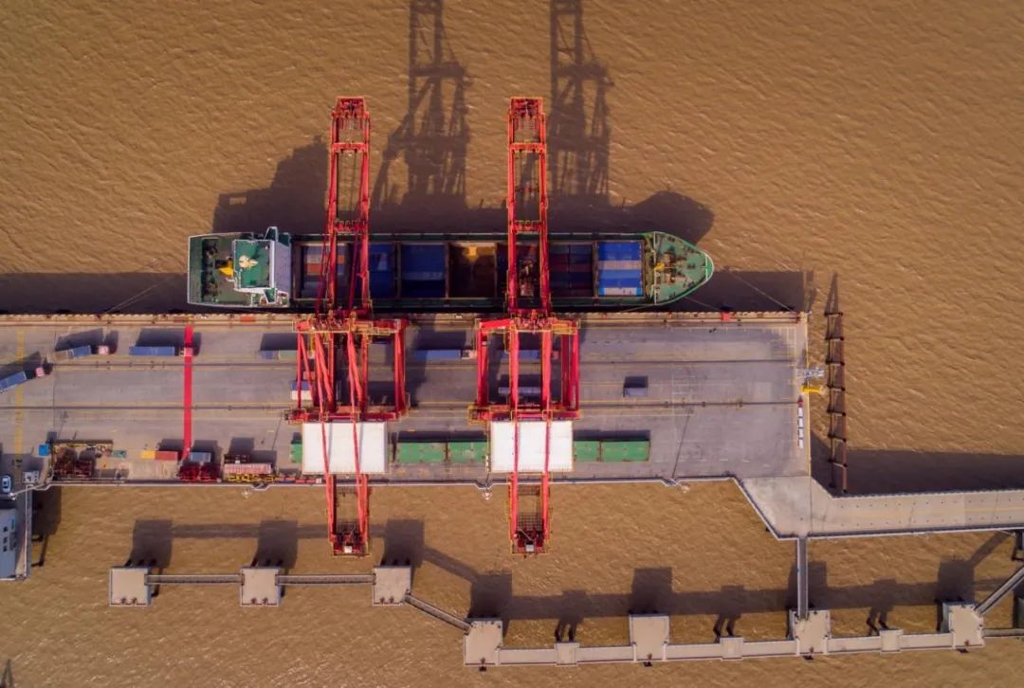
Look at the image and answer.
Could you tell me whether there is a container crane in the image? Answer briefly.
Yes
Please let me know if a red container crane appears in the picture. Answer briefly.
Yes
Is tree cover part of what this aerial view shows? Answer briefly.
No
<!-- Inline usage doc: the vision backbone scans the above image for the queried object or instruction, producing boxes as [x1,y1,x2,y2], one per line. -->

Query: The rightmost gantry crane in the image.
[469,95,588,554]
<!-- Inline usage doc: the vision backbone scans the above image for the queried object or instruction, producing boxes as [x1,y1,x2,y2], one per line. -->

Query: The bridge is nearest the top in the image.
[810,477,1024,538]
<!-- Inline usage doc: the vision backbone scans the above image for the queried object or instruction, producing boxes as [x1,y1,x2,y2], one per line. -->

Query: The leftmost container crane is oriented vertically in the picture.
[287,97,424,555]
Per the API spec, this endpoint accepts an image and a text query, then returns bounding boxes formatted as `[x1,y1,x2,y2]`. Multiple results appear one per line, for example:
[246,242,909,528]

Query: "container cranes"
[469,95,588,554]
[287,97,424,555]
